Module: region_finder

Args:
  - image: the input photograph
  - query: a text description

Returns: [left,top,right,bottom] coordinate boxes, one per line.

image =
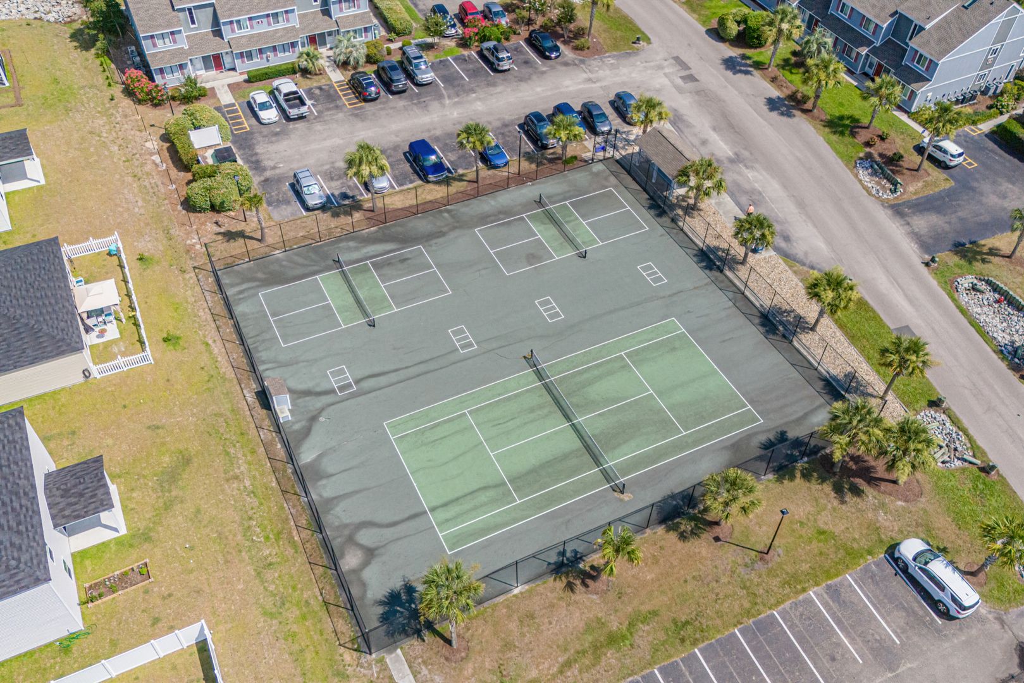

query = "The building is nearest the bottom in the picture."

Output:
[0,409,133,660]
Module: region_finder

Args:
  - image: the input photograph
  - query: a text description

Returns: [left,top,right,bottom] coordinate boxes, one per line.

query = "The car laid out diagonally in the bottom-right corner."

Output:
[891,539,982,617]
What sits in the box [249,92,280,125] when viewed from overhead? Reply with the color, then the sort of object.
white car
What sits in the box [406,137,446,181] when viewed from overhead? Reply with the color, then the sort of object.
blue car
